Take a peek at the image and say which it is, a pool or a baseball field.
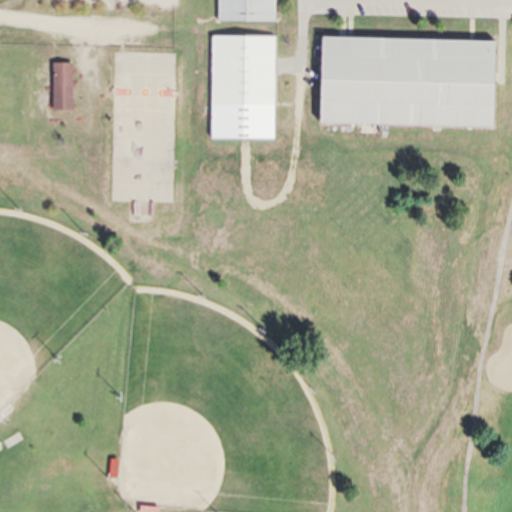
baseball field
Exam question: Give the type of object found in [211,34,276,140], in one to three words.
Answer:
barn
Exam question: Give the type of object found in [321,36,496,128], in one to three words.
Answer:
barn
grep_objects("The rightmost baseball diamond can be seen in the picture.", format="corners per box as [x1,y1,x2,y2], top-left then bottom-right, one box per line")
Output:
[116,286,336,512]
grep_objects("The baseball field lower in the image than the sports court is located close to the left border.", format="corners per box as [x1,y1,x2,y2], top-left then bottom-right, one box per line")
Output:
[0,208,134,414]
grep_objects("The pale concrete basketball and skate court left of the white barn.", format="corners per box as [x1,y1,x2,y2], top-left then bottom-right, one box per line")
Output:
[112,52,176,222]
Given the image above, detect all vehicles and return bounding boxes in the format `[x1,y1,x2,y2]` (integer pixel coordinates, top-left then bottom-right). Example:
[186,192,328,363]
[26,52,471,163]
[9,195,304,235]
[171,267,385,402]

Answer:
[404,2,412,14]
[357,2,365,14]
